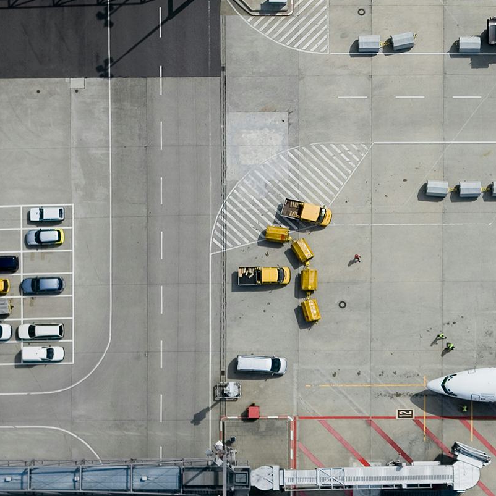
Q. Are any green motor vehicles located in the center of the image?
No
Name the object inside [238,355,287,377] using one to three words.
vehicle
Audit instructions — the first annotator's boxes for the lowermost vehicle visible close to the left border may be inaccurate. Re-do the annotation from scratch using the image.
[22,344,65,365]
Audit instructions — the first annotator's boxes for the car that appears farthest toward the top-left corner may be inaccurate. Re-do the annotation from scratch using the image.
[31,205,66,223]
